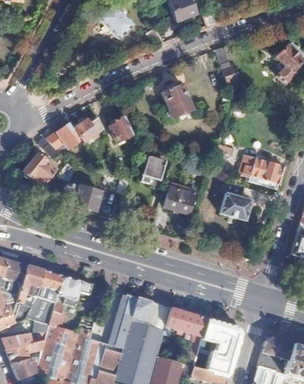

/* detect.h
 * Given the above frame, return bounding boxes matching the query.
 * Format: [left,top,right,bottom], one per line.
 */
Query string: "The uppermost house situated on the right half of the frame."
[168,0,200,24]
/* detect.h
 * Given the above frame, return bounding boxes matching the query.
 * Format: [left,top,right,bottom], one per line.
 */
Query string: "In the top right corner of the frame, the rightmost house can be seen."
[276,42,304,82]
